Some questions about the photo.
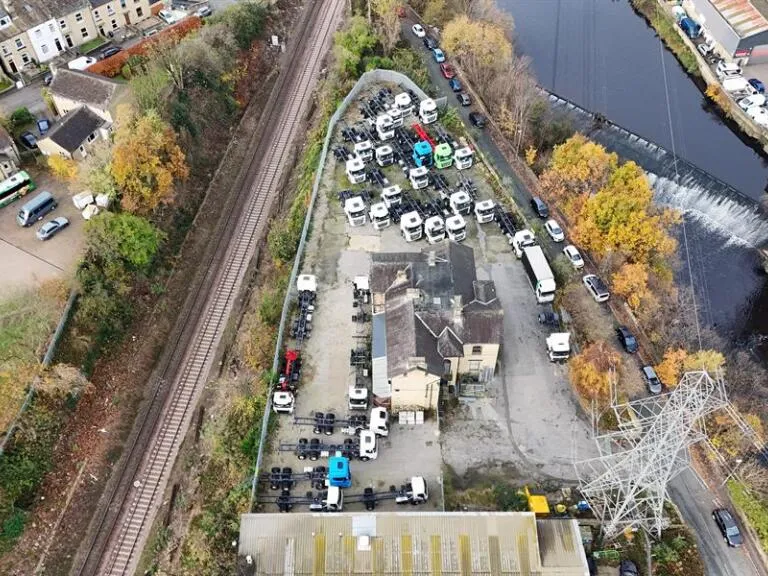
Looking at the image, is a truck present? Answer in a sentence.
Yes, there's a truck down there.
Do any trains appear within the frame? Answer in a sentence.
No, the frame has no train in it.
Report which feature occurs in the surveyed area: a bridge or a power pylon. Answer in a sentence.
Looking from above, you can make out a power pylon.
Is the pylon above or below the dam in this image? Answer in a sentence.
It's below the dam that the pylon shows up.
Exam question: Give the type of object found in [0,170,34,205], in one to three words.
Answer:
bus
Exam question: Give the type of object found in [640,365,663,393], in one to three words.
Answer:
car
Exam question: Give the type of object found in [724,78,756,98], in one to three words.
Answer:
vehicle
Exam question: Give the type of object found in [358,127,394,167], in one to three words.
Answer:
truck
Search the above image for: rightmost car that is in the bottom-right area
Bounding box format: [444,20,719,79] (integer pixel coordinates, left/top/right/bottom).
[711,508,744,548]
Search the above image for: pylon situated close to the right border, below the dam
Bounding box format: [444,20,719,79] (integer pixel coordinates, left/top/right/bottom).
[581,377,739,536]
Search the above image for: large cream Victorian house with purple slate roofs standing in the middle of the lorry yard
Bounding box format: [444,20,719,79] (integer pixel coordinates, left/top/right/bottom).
[370,234,504,405]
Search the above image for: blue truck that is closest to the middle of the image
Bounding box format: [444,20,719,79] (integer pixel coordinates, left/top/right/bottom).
[395,127,433,166]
